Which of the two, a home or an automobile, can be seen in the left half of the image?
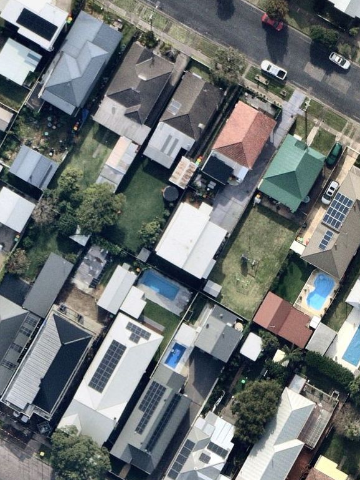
home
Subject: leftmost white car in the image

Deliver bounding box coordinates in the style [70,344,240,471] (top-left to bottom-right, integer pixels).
[261,61,286,80]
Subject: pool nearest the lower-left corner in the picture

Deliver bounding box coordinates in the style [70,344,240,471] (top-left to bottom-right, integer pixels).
[164,343,189,370]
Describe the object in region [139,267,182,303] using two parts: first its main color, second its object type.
blue swimming pool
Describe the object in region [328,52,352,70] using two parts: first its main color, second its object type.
white car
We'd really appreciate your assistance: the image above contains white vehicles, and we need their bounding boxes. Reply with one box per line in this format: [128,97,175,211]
[328,52,352,70]
[261,61,286,80]
[321,180,339,205]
